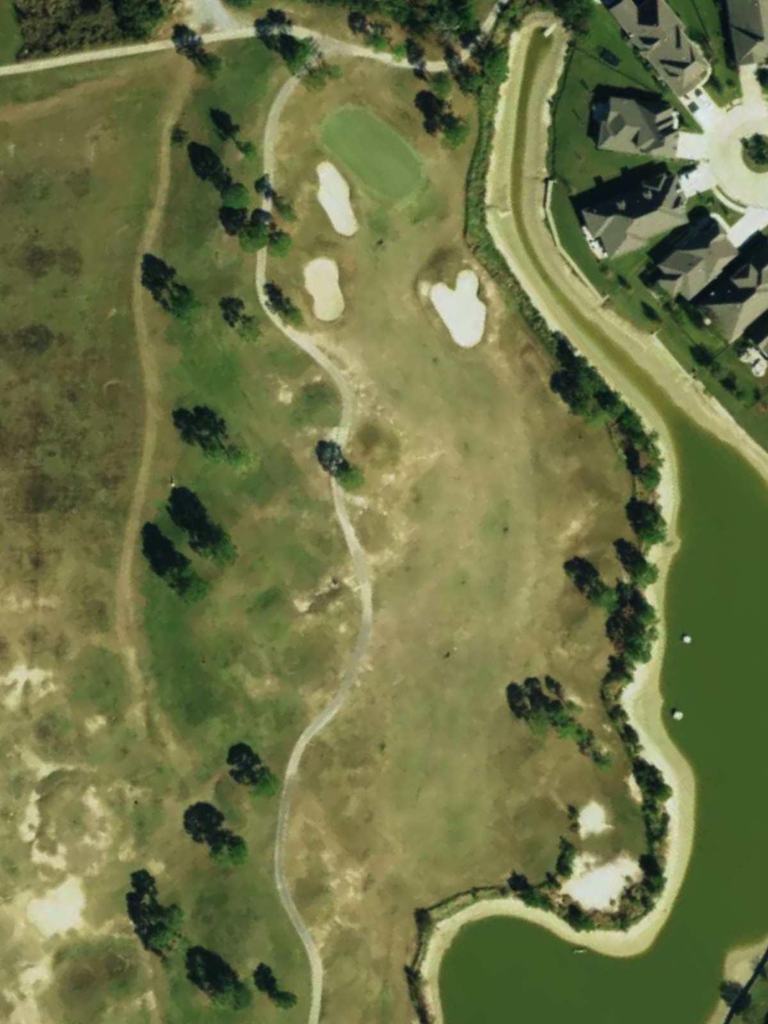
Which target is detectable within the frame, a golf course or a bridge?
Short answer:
golf course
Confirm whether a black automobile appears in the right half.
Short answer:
No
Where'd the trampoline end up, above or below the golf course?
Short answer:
above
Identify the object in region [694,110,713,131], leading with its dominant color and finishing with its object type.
white car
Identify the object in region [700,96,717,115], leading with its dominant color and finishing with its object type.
white car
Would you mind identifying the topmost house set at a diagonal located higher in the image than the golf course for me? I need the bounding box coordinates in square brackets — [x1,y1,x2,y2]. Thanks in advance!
[602,0,712,98]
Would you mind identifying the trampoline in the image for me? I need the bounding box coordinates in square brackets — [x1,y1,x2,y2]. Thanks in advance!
[601,47,623,67]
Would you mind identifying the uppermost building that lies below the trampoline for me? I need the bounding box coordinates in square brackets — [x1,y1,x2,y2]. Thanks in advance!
[598,96,683,158]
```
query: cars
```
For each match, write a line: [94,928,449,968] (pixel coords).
[700,96,717,115]
[694,110,713,131]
